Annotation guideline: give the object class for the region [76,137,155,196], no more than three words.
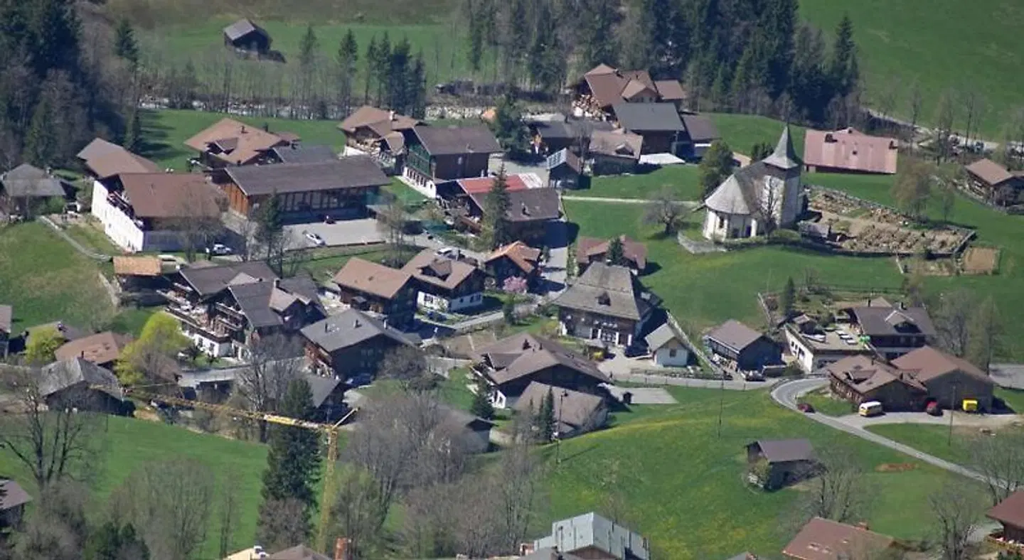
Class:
house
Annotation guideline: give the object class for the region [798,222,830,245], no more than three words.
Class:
shed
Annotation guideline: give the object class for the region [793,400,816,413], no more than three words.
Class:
vehicle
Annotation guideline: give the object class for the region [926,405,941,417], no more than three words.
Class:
vehicle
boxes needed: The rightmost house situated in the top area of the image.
[965,158,1024,201]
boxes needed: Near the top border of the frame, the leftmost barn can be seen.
[224,17,276,55]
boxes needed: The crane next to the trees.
[125,387,360,560]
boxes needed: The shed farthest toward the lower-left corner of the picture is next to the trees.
[0,480,32,526]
